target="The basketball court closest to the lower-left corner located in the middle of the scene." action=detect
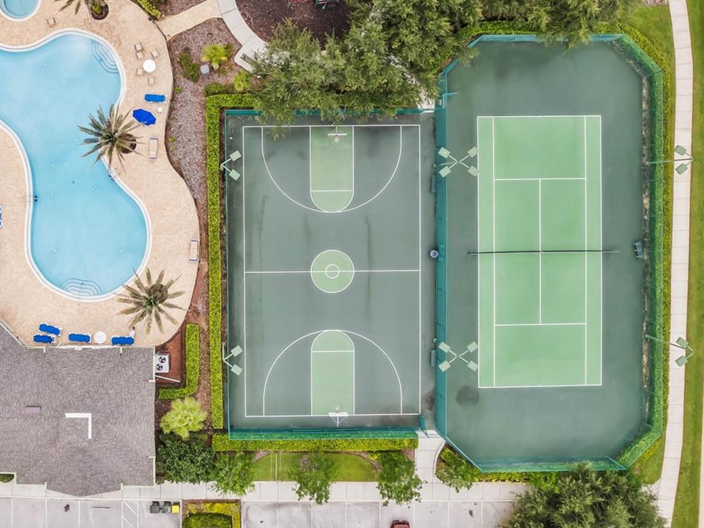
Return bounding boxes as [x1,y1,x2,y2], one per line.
[224,113,434,430]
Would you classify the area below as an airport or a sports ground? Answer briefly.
sports ground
